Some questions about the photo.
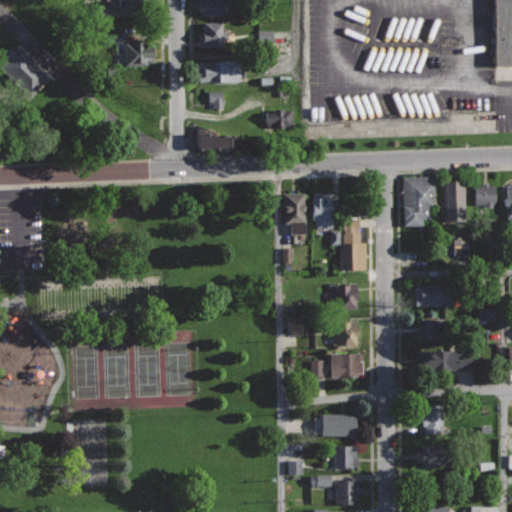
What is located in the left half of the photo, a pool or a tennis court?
tennis court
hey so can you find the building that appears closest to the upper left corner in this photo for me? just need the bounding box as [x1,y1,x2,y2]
[1,58,46,90]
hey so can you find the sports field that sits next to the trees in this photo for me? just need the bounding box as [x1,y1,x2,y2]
[39,276,160,320]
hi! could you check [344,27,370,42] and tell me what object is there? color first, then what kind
white vehicle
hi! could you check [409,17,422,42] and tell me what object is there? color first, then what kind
white vehicle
